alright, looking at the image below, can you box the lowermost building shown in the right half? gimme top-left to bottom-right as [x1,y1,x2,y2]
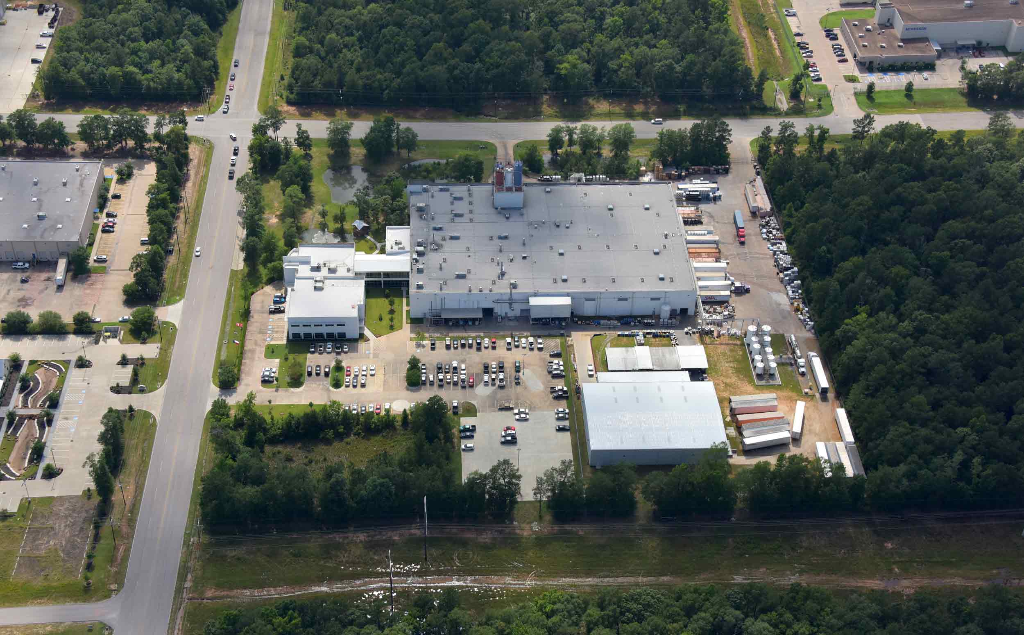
[581,381,729,467]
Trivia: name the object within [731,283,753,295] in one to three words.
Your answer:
vehicle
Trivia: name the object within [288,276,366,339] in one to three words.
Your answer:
building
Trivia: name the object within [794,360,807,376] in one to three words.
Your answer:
vehicle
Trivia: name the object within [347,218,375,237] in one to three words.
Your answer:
gazebo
